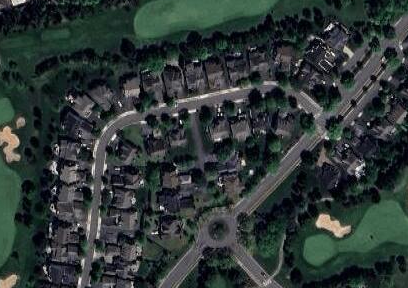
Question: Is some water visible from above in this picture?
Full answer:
No, the picture contains no water.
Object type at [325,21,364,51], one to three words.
house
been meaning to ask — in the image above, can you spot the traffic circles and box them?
[196,208,239,249]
